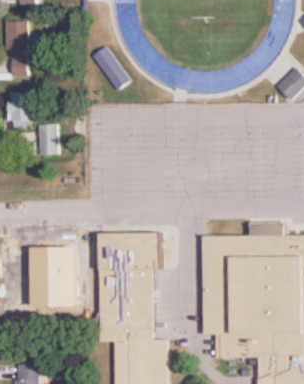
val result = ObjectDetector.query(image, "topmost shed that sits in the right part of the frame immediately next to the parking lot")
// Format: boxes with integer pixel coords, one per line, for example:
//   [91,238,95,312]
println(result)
[274,68,304,98]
